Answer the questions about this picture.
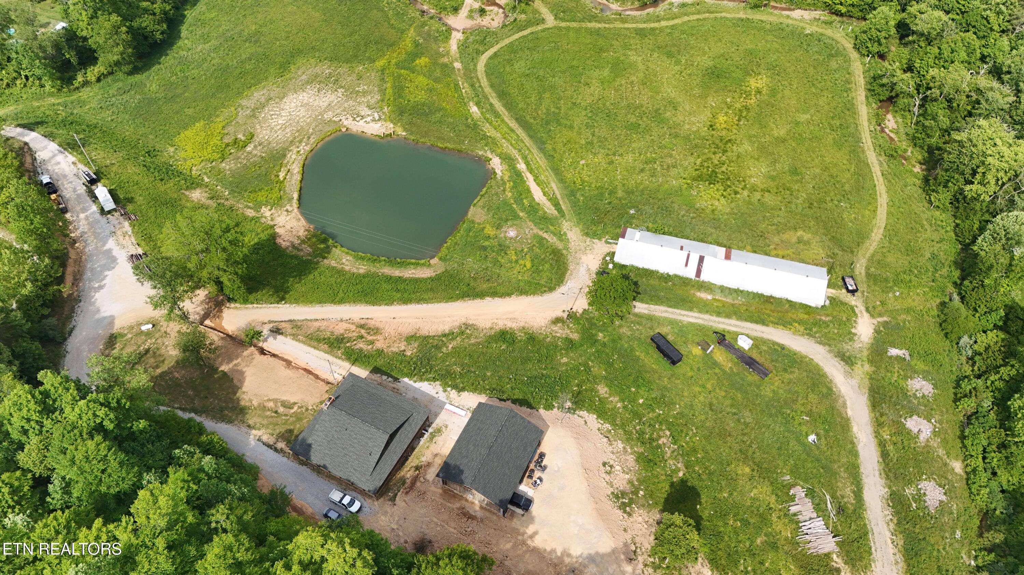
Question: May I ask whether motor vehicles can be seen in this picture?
Yes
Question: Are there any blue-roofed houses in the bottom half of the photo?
No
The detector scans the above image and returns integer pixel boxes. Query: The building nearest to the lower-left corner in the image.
[290,372,431,504]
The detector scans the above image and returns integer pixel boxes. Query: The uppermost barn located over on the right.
[614,228,827,314]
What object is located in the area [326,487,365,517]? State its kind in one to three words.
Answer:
truck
